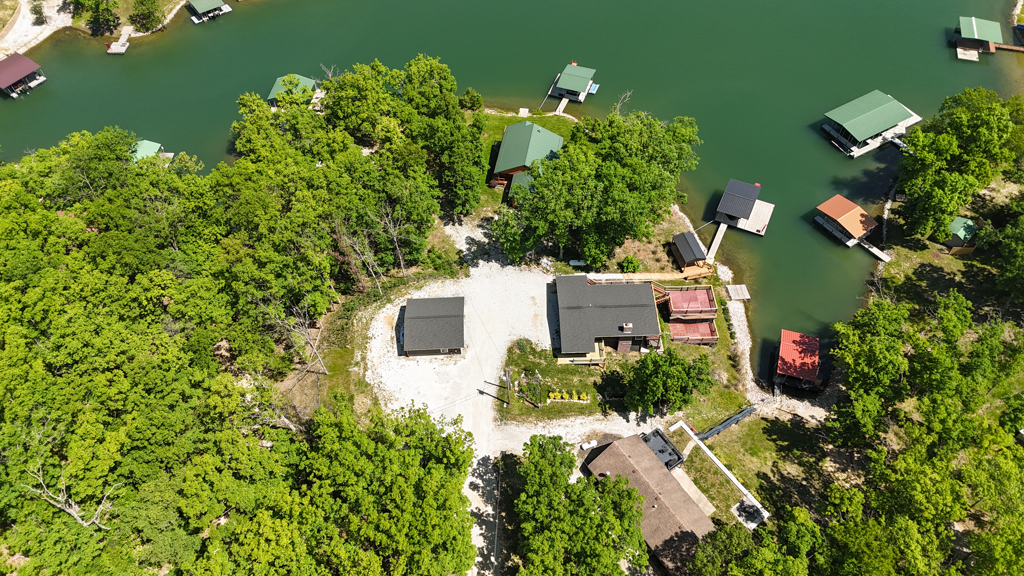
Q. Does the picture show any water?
Yes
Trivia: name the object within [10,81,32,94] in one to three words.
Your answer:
boat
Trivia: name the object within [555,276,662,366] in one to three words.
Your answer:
house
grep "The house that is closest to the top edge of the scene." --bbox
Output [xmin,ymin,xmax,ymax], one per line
[495,118,564,201]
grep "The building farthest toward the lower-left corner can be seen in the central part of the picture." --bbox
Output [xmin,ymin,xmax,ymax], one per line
[404,298,465,356]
